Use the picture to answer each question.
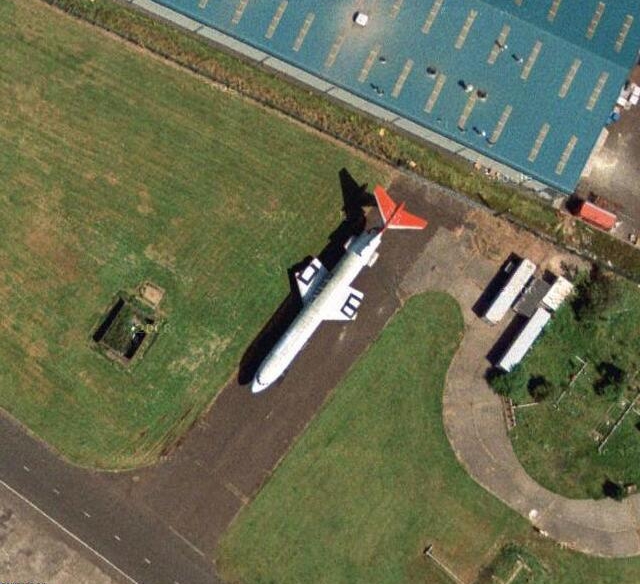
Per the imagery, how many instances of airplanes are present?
1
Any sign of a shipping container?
Yes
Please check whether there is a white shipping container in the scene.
No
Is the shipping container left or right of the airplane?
to its right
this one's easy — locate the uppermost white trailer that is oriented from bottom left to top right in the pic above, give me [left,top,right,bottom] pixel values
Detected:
[482,259,536,326]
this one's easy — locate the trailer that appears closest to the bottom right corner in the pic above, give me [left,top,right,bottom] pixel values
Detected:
[496,307,550,375]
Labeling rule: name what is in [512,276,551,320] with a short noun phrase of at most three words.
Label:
shed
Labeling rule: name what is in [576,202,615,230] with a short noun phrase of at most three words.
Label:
shipping container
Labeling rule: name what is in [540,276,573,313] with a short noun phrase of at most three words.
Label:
building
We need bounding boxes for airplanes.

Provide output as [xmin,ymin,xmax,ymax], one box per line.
[252,183,429,392]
